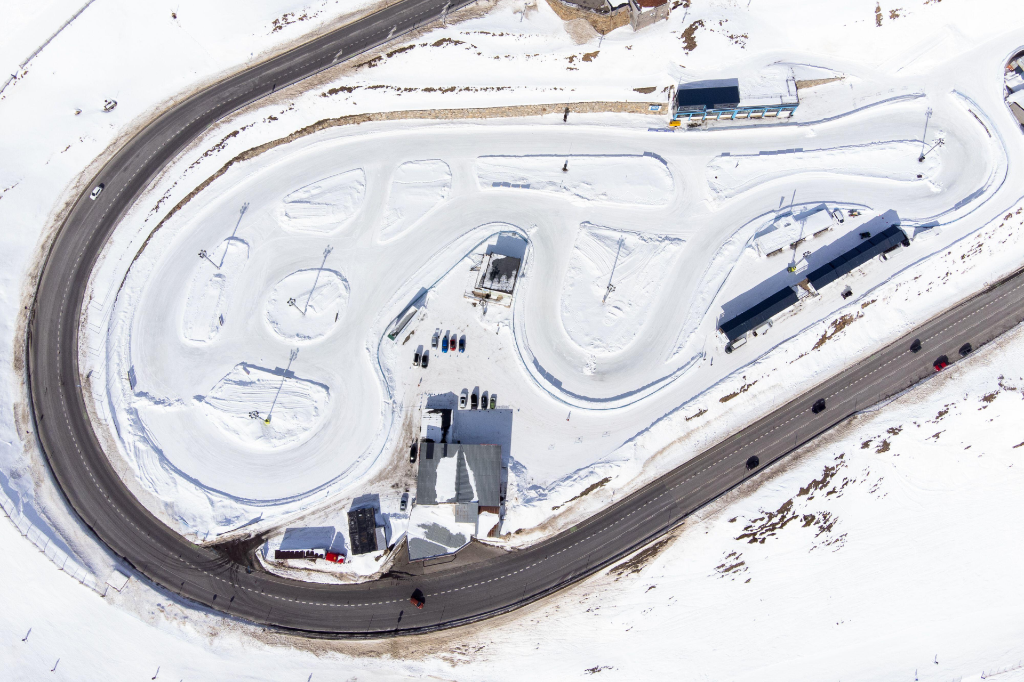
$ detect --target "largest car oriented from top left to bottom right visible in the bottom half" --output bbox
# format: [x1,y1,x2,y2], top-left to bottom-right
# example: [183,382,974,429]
[409,595,427,610]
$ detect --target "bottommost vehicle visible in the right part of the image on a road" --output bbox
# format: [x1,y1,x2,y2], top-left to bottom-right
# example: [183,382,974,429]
[744,457,760,469]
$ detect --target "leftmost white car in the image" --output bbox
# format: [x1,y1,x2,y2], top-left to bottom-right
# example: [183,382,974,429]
[90,185,104,199]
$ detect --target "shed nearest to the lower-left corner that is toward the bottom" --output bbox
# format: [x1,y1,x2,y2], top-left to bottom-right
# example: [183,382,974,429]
[348,508,388,555]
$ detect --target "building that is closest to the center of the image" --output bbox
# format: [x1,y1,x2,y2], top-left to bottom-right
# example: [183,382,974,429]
[463,252,520,308]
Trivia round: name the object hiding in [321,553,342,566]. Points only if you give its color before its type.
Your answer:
red vehicle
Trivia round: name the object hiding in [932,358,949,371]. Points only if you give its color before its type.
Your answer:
red vehicle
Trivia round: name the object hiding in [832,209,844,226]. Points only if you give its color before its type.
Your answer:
white vehicle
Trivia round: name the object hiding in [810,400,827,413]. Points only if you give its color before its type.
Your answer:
black vehicle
